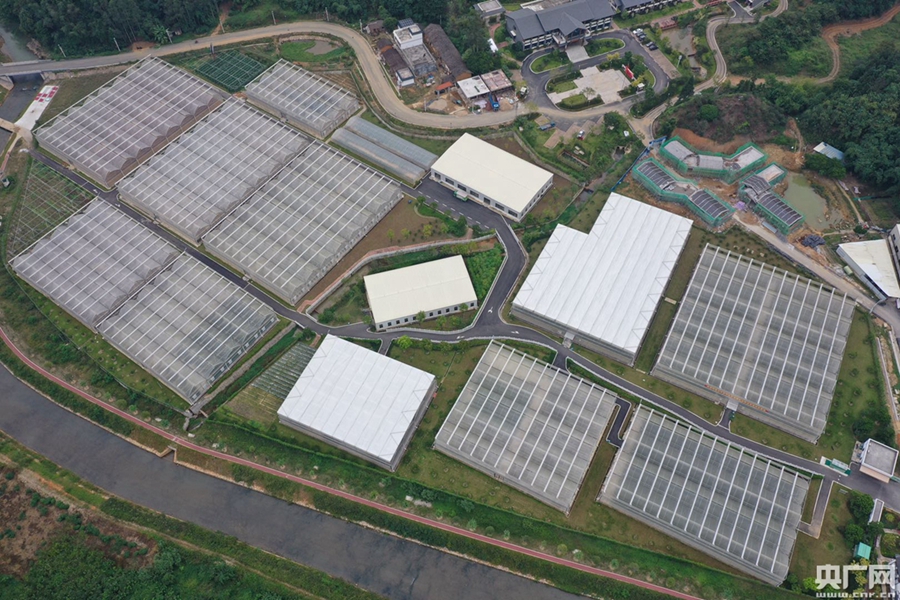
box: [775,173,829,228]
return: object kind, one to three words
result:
pond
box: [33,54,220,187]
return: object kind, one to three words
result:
greenhouse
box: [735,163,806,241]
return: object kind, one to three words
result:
building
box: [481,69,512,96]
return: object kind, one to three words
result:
house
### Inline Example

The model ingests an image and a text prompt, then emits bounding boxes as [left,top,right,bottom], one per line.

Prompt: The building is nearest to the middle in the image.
[364,255,477,329]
